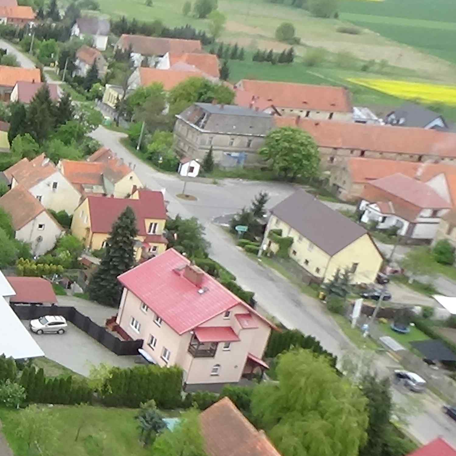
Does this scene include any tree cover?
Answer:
Yes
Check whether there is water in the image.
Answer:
No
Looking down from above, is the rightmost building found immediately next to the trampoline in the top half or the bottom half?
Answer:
bottom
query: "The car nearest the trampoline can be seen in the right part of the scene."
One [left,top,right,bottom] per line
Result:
[359,286,392,301]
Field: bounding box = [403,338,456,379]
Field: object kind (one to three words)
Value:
building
